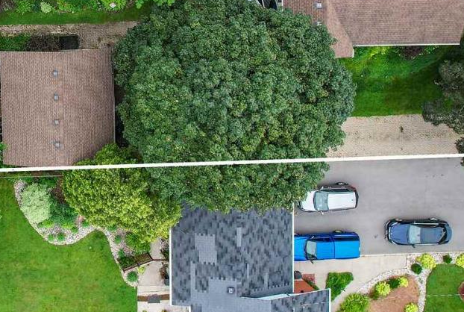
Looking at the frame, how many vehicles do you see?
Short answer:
3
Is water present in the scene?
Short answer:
No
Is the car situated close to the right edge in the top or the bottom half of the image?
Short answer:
bottom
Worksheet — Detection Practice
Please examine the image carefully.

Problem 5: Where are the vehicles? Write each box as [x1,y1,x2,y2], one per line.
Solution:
[379,215,454,251]
[295,228,361,264]
[291,180,363,215]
